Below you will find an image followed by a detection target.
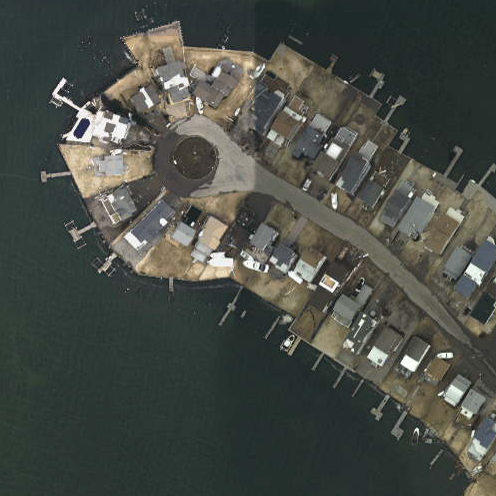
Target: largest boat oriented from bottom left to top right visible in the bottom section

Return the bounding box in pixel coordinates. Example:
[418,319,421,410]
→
[281,335,293,352]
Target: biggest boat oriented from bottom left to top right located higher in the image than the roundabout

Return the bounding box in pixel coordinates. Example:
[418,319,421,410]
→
[250,63,264,79]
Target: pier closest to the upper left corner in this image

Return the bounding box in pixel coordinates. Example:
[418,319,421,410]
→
[49,77,96,112]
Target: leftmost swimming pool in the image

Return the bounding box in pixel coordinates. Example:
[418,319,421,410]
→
[65,109,93,143]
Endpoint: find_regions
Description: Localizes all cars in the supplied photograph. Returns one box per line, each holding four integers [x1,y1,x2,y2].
[316,190,328,201]
[303,179,312,192]
[462,306,472,316]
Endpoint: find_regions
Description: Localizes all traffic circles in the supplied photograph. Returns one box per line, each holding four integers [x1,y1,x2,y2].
[153,115,256,198]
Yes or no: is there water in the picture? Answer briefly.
Yes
